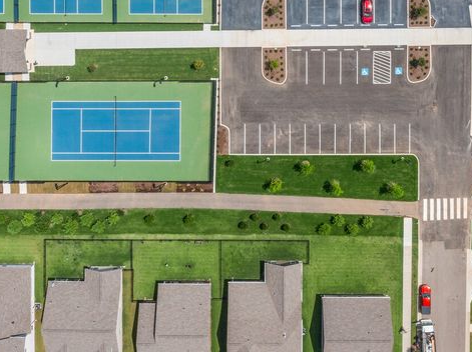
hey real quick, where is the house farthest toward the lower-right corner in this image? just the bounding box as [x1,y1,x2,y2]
[322,295,394,352]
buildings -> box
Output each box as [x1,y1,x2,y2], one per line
[43,264,123,352]
[0,263,33,352]
[0,29,29,73]
[227,260,303,352]
[135,281,211,352]
[322,295,394,352]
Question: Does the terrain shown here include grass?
Yes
